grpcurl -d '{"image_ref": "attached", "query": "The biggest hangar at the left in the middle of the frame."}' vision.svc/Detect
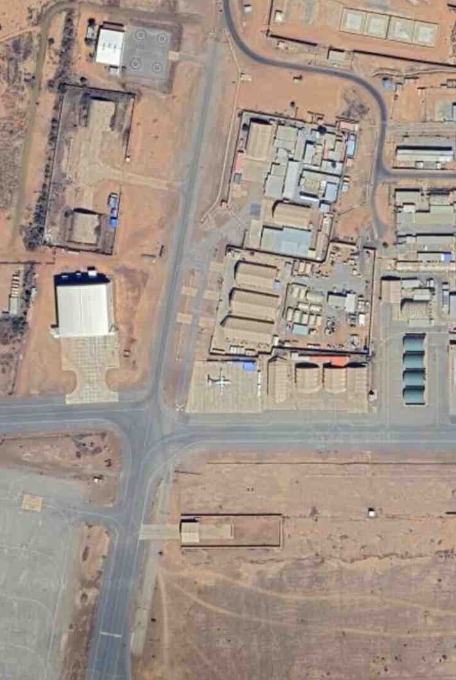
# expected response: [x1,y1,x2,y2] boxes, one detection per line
[56,284,111,335]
